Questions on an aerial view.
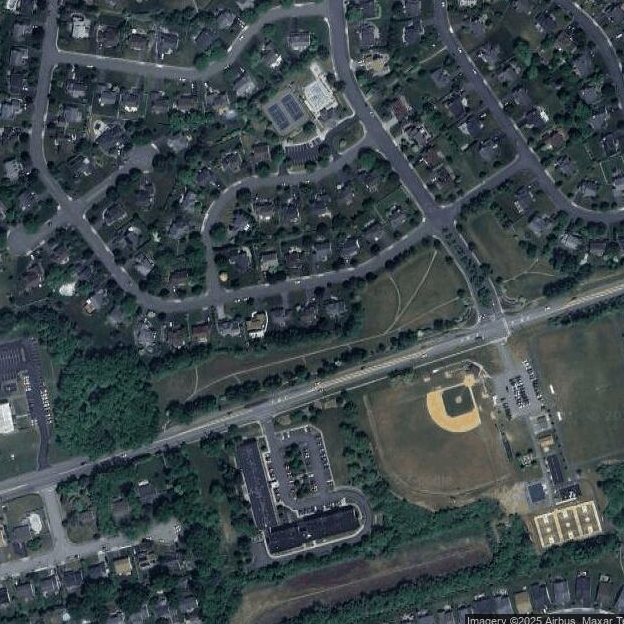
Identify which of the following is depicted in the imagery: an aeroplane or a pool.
pool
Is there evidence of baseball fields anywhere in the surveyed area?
Yes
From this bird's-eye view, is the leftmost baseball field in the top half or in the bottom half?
bottom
